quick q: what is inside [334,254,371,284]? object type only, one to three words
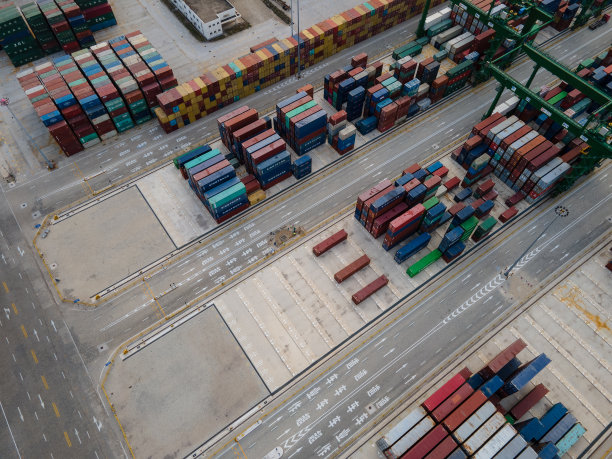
shipping container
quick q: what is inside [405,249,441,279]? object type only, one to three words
shipping container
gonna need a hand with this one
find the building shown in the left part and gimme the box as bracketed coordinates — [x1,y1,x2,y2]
[170,0,243,39]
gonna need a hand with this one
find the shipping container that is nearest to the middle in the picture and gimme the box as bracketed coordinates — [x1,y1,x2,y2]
[313,229,348,258]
